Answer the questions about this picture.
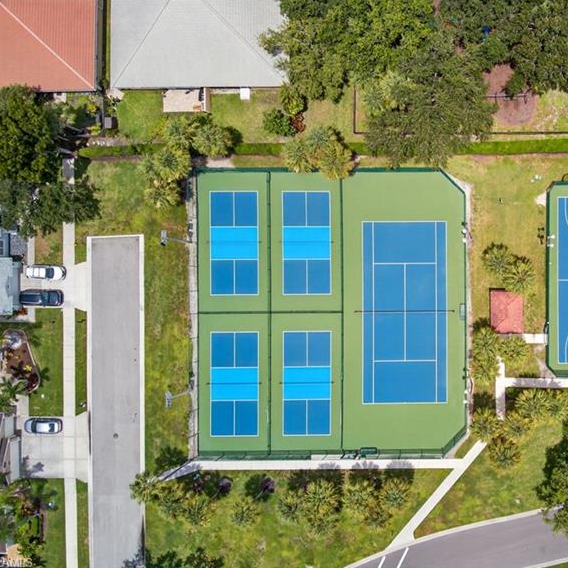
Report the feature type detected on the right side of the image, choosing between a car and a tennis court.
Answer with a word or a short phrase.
tennis court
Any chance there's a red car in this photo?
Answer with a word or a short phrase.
No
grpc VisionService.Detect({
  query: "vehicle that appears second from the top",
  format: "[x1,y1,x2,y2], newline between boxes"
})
[19,288,62,307]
